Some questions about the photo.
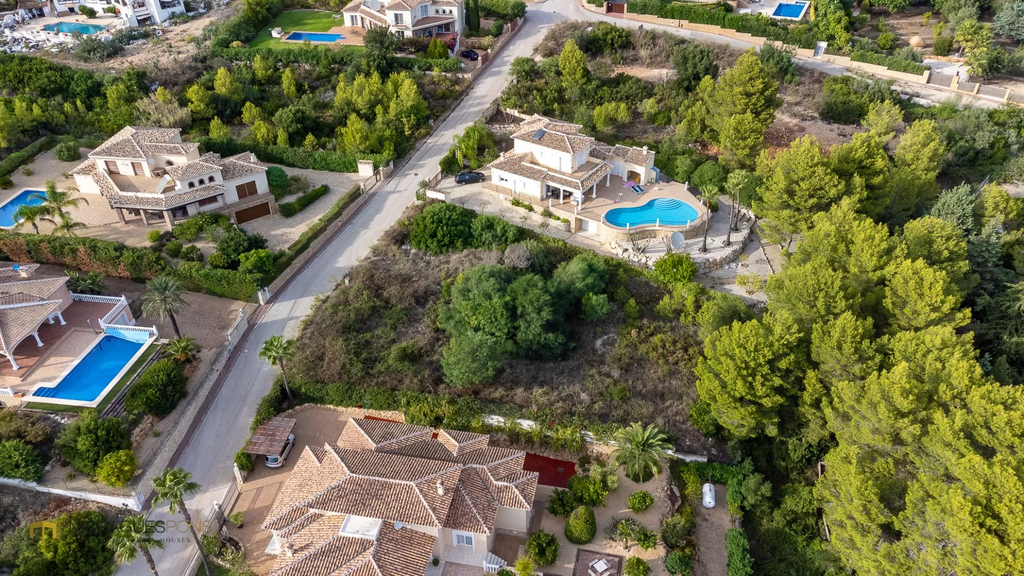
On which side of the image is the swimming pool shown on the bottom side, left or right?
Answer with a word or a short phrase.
left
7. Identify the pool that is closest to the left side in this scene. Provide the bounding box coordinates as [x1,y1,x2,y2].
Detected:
[0,189,48,227]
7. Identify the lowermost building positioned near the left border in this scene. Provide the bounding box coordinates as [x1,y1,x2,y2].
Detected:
[0,263,78,372]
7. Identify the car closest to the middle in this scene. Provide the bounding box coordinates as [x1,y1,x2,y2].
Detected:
[455,173,485,188]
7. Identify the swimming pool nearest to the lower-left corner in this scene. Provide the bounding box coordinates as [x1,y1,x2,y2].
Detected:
[19,330,152,407]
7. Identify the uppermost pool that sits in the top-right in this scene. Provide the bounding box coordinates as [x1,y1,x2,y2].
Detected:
[769,3,810,19]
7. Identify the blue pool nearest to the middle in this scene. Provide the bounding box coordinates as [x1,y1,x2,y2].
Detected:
[603,196,701,229]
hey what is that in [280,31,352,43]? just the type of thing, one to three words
swimming pool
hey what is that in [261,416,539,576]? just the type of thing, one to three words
house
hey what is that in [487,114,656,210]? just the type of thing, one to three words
house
